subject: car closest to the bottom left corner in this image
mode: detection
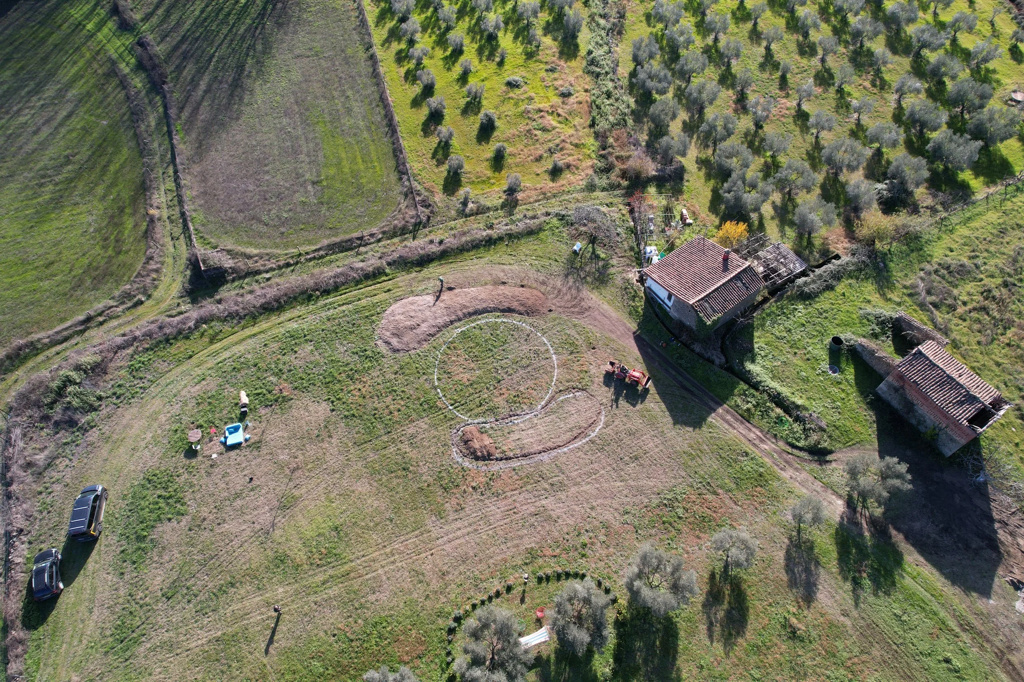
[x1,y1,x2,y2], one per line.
[31,546,64,605]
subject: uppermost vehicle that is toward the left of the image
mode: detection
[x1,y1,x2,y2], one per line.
[70,484,109,543]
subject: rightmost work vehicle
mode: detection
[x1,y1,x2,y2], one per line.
[604,361,650,390]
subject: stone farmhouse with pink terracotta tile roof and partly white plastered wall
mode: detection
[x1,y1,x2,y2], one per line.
[639,234,766,339]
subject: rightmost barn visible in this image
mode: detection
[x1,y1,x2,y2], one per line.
[875,341,1017,457]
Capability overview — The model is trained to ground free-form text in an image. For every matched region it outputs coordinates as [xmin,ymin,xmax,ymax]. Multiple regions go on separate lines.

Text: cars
[70,484,109,543]
[31,546,64,605]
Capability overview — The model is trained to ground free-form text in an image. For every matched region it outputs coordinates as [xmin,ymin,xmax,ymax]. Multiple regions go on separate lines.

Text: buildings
[639,234,766,339]
[750,241,808,287]
[875,341,1017,457]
